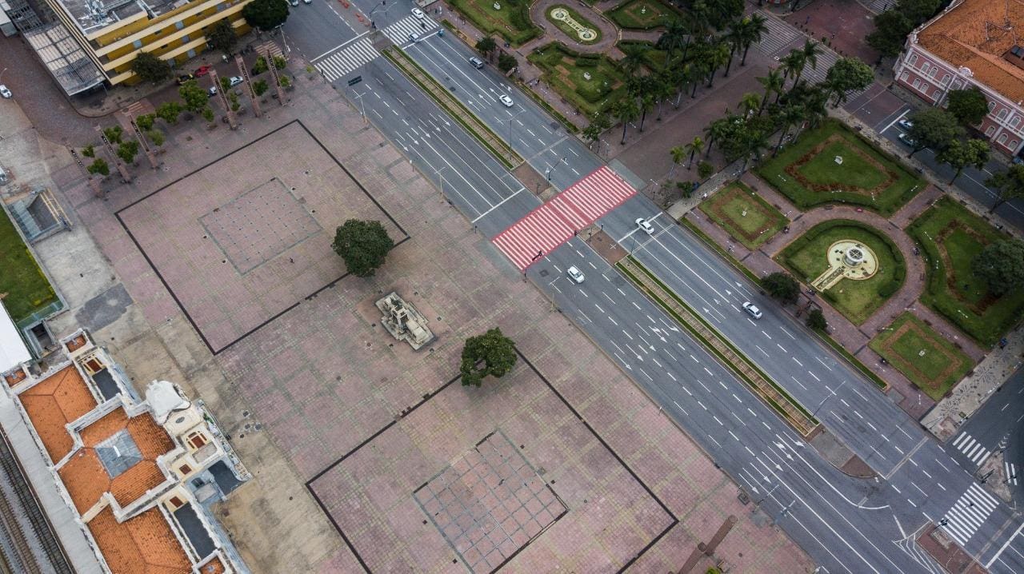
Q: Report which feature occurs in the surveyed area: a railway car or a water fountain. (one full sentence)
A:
Looking from above, you can make out a water fountain.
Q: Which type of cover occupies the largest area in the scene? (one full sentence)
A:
The largest share of the image is taken up by paved ground.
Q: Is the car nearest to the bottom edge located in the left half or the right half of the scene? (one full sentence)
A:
It is on the right.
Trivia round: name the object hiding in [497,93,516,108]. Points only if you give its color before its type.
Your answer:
white car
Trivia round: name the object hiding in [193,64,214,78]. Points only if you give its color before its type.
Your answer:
red car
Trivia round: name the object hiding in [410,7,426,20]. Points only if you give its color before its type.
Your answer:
white vehicle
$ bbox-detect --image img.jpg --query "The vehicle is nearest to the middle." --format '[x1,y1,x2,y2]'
[565,264,586,284]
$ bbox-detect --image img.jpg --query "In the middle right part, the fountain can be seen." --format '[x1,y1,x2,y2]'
[811,238,881,296]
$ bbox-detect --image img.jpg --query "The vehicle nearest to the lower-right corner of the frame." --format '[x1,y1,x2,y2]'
[739,298,765,321]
